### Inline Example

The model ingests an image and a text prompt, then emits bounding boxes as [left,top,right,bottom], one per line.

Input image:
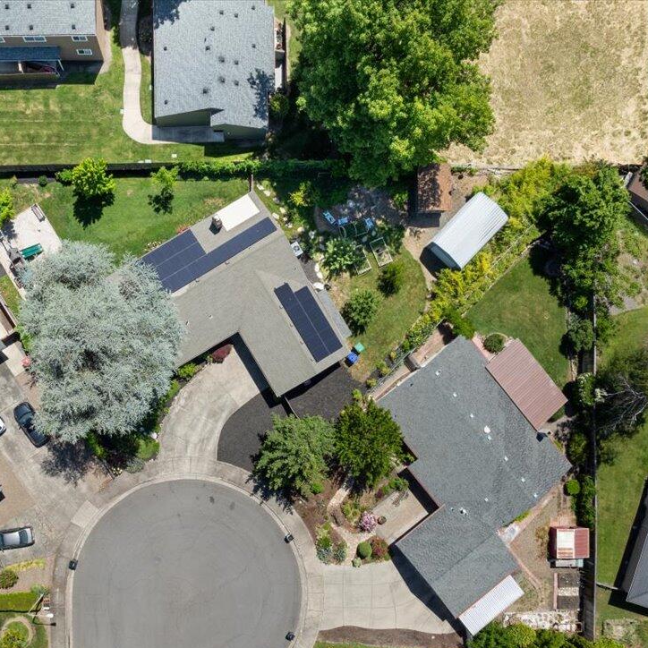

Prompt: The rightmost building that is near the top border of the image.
[153,0,276,147]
